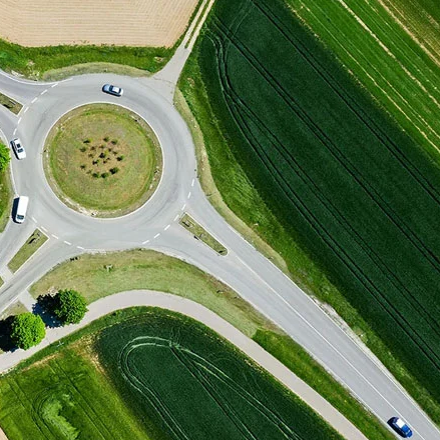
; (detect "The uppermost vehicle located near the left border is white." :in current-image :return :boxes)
[12,139,26,159]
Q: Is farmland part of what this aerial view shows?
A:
Yes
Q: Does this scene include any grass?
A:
Yes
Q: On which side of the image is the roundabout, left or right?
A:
left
